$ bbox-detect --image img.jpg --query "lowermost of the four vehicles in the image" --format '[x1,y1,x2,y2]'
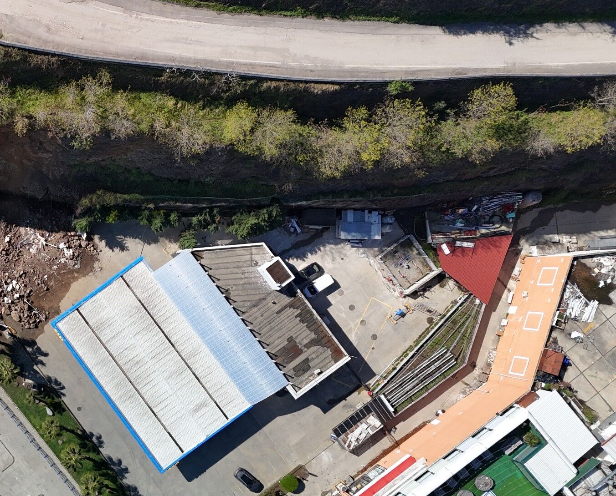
[236,466,262,494]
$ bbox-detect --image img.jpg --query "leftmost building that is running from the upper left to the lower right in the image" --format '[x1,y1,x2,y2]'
[175,241,353,399]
